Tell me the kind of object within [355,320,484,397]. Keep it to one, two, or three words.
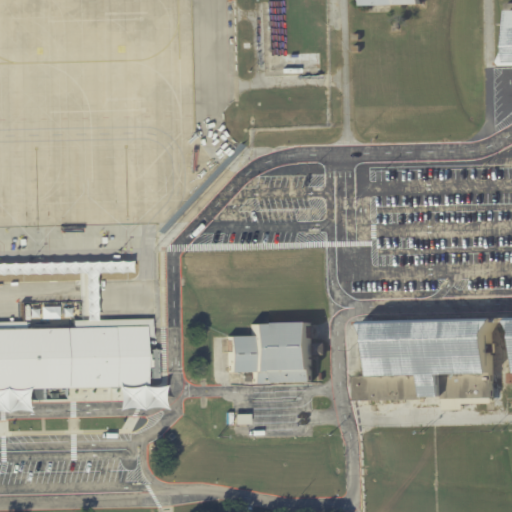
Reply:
building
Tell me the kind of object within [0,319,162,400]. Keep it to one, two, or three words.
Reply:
building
